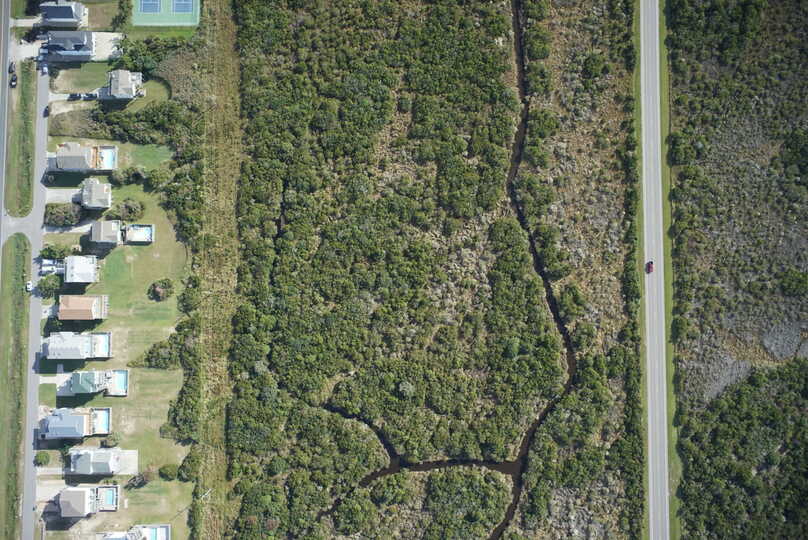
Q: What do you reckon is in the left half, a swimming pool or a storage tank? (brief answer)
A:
swimming pool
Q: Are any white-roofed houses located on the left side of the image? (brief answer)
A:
Yes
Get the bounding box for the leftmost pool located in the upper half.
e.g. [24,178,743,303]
[97,146,118,169]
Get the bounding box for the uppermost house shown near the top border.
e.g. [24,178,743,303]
[39,0,88,31]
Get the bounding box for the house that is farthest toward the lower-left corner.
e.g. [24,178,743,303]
[58,485,99,518]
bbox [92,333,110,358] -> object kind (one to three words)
swimming pool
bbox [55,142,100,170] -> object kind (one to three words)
house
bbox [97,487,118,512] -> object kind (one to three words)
swimming pool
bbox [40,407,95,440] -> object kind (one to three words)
house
